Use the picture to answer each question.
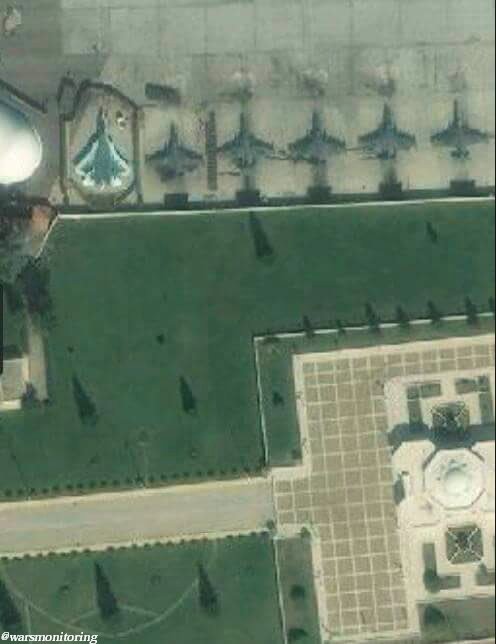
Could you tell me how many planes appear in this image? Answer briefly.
six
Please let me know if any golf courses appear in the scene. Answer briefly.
No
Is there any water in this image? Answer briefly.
No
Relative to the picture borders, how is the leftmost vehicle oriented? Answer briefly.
diagonally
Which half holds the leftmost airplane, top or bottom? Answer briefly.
top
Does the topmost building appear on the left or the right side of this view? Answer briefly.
left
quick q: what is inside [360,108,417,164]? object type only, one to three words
airplane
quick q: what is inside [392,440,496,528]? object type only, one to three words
building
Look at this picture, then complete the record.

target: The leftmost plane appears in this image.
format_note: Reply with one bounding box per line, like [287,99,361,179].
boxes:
[76,112,129,187]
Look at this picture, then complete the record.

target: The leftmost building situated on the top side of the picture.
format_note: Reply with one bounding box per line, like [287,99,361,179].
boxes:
[0,92,42,187]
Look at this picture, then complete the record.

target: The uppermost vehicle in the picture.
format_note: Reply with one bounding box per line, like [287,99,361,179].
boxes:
[1,8,22,33]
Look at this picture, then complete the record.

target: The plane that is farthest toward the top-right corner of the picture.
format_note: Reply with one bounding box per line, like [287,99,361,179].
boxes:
[431,107,490,159]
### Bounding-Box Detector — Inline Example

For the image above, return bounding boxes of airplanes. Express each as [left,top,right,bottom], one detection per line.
[431,107,490,159]
[218,113,275,169]
[290,114,348,166]
[76,112,129,187]
[360,108,417,164]
[146,123,204,182]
